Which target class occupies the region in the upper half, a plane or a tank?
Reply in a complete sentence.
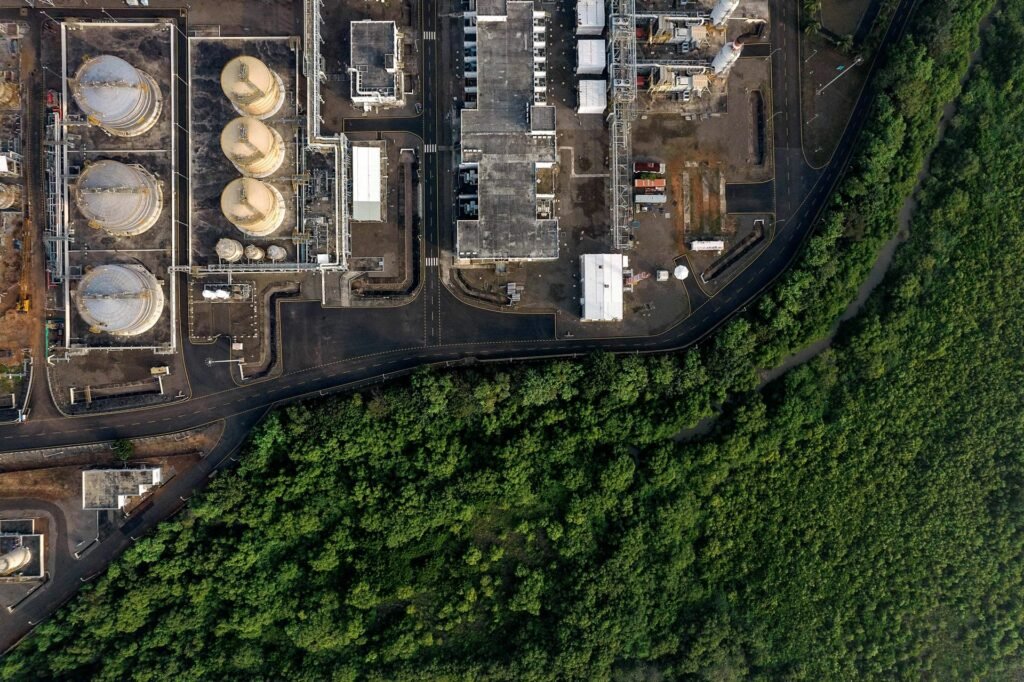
What appears in the upper half is a tank.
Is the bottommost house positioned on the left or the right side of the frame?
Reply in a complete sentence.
You can find the bottommost house on the left side of the picture.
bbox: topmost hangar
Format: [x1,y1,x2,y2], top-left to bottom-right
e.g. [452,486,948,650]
[574,0,605,36]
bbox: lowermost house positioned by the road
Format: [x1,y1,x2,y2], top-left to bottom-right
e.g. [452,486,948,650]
[83,454,160,509]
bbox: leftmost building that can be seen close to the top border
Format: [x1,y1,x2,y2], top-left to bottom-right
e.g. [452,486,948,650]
[343,21,404,117]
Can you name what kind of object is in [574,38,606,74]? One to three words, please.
hangar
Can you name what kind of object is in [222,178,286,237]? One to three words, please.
storage tank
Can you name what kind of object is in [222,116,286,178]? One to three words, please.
storage tank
